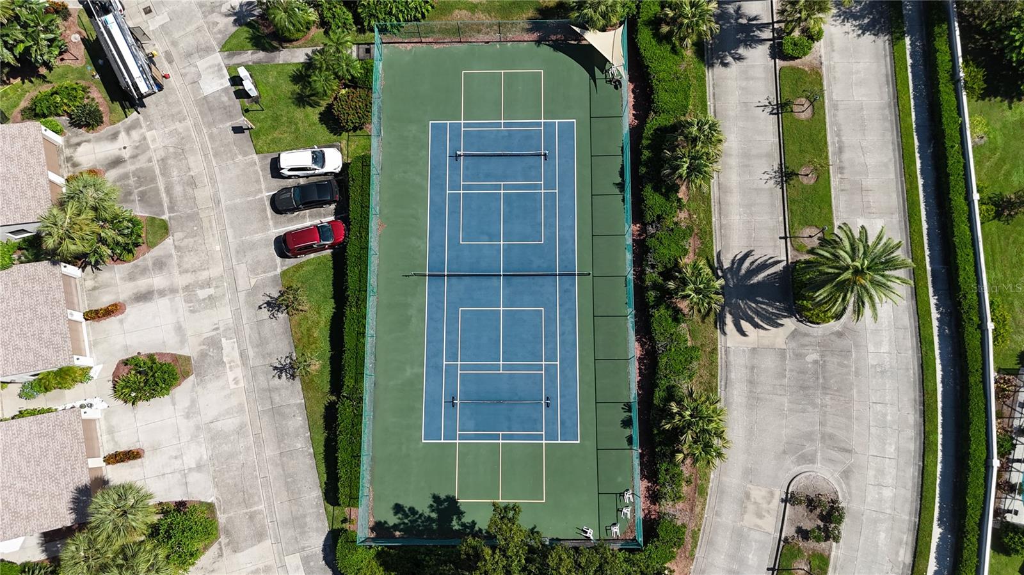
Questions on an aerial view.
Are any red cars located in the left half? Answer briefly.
Yes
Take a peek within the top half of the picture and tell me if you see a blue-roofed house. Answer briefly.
No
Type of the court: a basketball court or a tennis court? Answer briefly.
tennis court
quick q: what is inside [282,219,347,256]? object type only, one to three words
car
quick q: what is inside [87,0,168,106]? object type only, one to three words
trailer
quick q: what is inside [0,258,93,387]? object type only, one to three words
house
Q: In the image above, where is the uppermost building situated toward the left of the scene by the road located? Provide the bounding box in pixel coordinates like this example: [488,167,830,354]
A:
[0,113,67,239]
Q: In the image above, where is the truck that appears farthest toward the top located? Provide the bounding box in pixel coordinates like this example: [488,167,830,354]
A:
[98,0,137,29]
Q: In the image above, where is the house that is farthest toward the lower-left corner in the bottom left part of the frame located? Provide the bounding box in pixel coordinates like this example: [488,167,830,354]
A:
[0,407,106,541]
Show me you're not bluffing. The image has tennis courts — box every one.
[373,44,632,539]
